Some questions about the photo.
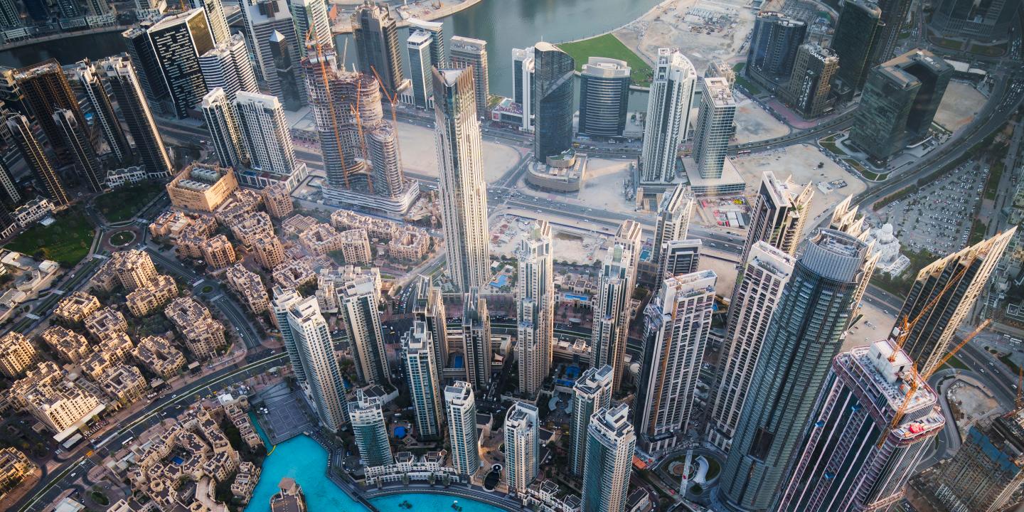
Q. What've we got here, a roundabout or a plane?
roundabout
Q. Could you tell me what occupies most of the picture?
buildings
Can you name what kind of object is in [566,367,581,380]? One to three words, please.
swimming pool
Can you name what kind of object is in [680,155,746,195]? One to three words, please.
building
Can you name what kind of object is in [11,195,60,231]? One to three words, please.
building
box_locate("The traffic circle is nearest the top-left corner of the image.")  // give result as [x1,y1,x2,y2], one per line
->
[94,220,150,256]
